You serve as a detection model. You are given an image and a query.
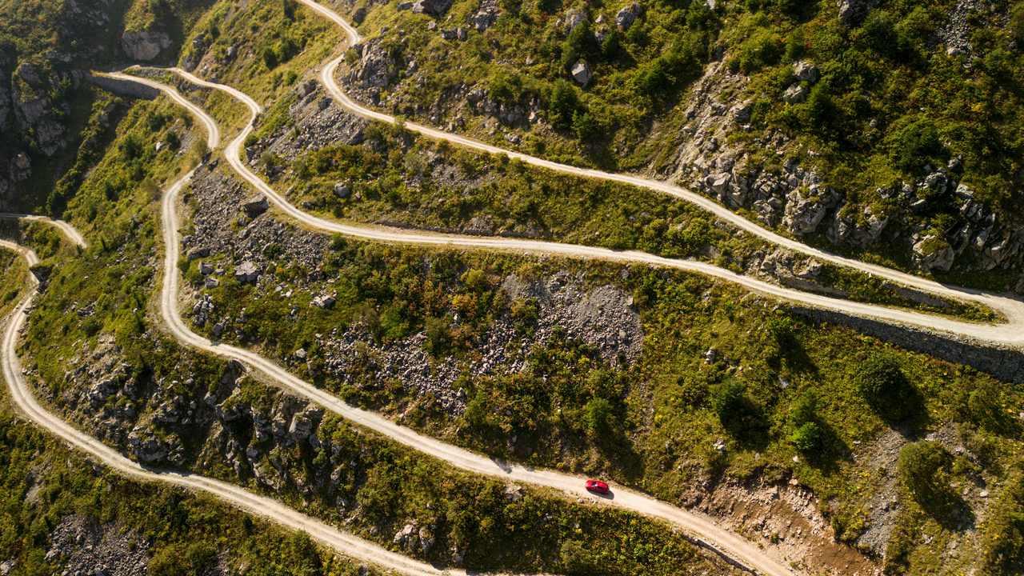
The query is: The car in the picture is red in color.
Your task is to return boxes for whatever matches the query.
[587,479,611,494]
